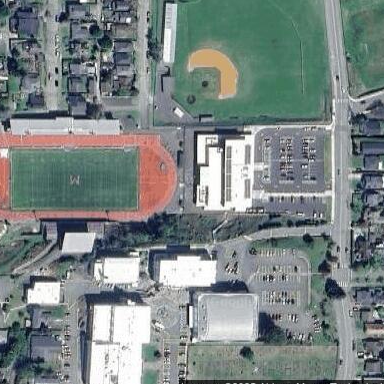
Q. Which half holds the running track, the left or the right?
left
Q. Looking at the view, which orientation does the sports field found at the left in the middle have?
from left to right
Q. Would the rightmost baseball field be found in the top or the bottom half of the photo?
top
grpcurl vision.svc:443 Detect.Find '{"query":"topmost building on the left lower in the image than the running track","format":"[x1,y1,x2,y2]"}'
[62,233,95,253]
